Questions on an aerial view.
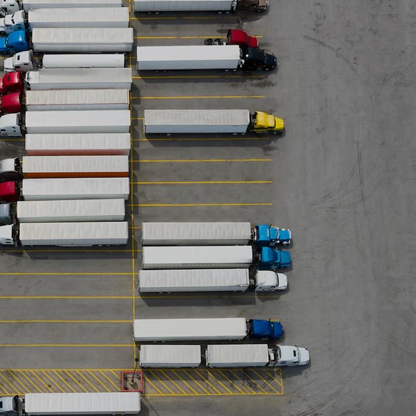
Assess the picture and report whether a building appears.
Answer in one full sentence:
No, I find no building anywhere in the image.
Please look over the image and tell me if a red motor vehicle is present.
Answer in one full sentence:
Yes, this view includes a red motor vehicle.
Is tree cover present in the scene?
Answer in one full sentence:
No, the picture contains no tree cover.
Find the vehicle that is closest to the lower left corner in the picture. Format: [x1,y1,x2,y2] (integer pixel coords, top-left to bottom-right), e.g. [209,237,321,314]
[0,392,141,416]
